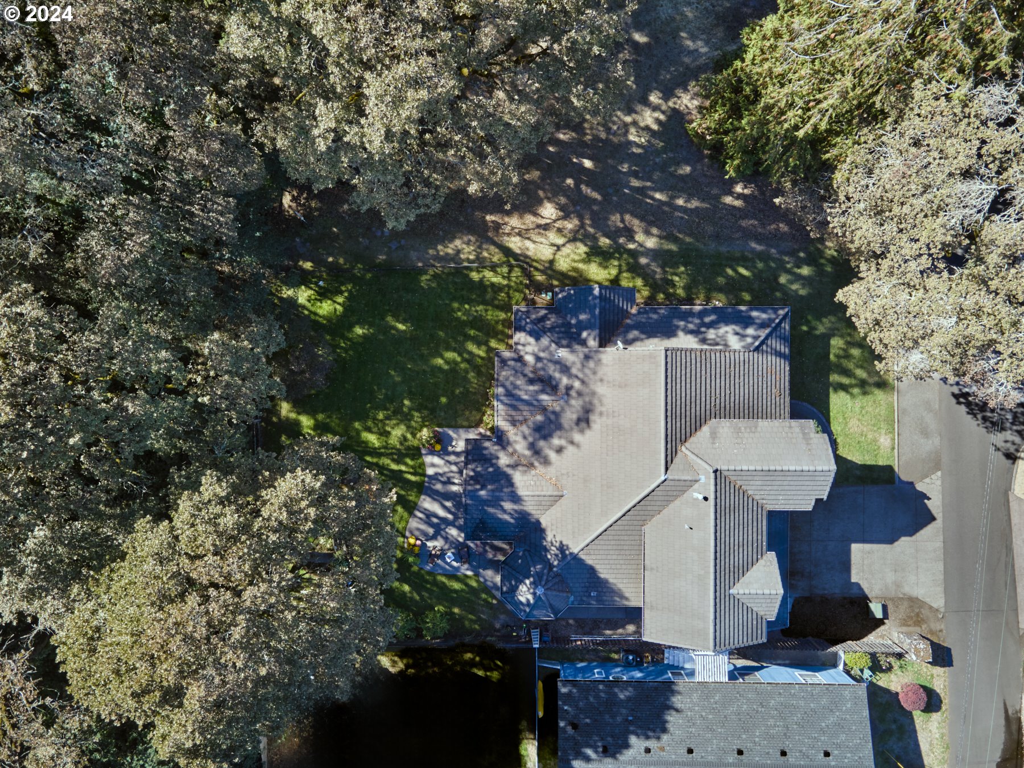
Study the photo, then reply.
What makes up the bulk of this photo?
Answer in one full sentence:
The scene is dominated by trees.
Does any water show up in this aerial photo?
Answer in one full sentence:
No, no water is visible.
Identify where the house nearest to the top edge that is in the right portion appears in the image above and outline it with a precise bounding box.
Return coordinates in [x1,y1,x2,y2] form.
[462,284,838,653]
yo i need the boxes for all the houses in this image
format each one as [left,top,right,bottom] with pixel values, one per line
[557,663,876,768]
[462,284,838,653]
